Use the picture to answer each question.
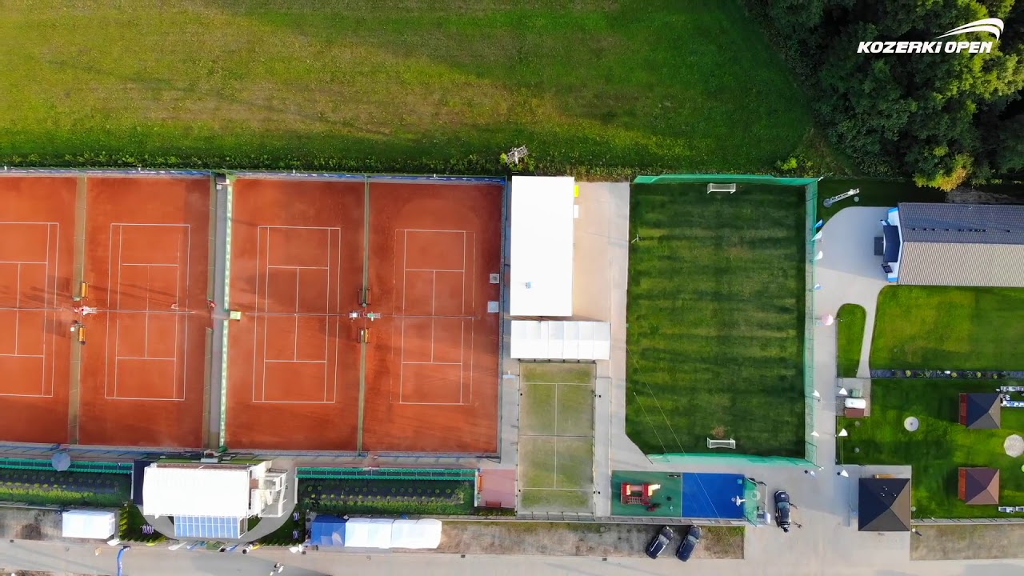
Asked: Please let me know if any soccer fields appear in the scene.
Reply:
Yes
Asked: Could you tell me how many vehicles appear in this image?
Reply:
three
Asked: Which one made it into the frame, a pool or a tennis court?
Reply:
tennis court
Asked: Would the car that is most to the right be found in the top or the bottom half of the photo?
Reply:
bottom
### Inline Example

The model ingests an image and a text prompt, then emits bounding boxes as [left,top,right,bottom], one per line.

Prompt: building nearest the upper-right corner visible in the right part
[876,200,1024,289]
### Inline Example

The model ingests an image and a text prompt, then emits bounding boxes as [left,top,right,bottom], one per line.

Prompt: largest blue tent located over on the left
[311,512,349,546]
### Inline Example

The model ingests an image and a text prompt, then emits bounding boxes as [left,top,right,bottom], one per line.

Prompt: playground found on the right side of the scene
[611,471,682,518]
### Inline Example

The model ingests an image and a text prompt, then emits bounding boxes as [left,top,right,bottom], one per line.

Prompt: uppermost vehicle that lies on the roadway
[775,492,799,533]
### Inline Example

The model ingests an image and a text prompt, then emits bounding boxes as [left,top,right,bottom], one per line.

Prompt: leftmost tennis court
[0,178,86,441]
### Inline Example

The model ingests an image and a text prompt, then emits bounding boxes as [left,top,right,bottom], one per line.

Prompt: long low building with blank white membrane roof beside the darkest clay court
[510,176,574,317]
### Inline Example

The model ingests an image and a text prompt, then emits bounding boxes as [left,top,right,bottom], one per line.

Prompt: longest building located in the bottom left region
[142,455,294,539]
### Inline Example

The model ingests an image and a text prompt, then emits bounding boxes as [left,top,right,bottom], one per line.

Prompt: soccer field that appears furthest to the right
[628,184,804,458]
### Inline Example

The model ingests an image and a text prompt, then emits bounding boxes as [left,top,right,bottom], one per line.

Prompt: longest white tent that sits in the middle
[510,321,610,360]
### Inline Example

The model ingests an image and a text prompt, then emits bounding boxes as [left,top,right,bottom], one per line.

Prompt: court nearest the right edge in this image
[681,472,745,519]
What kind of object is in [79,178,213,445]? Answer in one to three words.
tennis court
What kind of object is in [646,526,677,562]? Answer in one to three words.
car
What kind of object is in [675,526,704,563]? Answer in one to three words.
car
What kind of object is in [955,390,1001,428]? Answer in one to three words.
gazebo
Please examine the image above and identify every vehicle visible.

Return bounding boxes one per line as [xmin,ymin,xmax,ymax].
[775,492,799,533]
[646,526,677,562]
[675,526,704,563]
